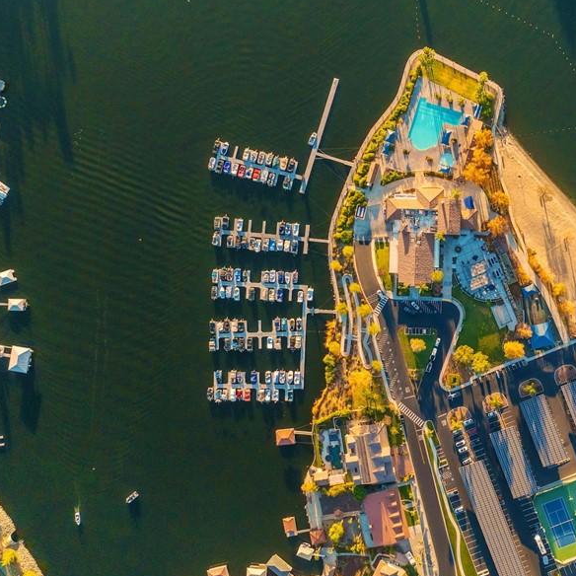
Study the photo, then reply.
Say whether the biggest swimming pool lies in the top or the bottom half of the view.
top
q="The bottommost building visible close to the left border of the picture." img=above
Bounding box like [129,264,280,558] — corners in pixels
[8,345,38,372]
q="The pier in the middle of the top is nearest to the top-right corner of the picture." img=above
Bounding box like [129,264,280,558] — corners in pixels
[300,77,353,193]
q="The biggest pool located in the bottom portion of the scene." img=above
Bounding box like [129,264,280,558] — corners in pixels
[328,443,343,468]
